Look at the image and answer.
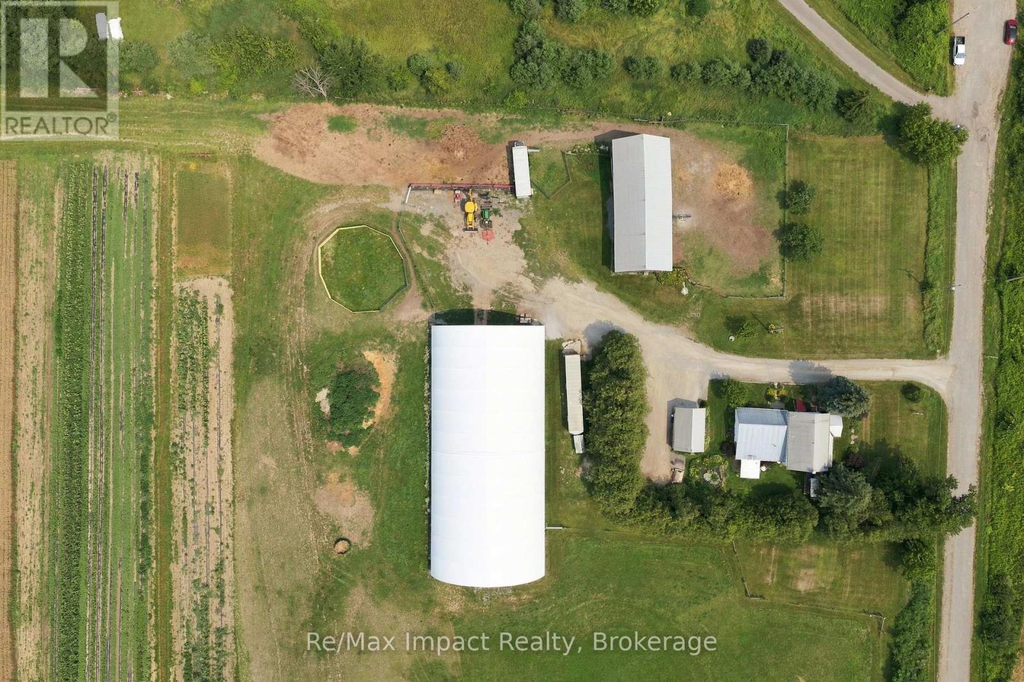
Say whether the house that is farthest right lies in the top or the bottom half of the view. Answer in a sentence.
The house that is farthest right is in the bottom half of the image.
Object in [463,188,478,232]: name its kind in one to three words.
work vehicle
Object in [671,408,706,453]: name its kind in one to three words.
building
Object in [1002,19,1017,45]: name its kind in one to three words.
car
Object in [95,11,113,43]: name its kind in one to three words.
shed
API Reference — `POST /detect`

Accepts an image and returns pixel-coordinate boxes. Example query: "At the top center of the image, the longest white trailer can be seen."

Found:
[513,142,537,200]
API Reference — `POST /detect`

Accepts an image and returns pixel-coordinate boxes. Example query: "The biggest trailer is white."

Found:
[564,354,584,437]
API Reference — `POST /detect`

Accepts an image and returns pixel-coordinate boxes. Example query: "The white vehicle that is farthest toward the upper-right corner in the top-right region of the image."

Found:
[952,35,967,67]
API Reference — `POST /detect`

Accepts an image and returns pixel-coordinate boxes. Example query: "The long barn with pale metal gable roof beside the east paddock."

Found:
[610,133,673,277]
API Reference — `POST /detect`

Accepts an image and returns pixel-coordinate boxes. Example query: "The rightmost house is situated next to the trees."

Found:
[733,408,842,479]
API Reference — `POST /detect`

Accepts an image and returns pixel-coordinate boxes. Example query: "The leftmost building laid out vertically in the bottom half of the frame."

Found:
[431,324,546,588]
